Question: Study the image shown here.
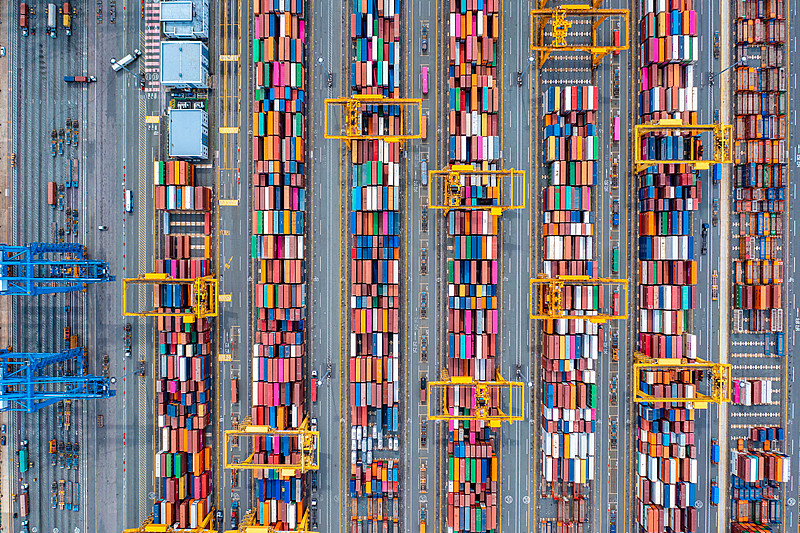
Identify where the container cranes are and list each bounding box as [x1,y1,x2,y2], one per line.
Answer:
[429,164,525,216]
[634,116,734,173]
[0,341,121,416]
[633,350,732,410]
[530,270,629,327]
[0,238,121,298]
[530,4,630,67]
[123,268,218,324]
[325,90,423,150]
[428,367,524,428]
[224,413,319,478]
[225,506,318,533]
[123,506,217,533]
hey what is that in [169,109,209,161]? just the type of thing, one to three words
building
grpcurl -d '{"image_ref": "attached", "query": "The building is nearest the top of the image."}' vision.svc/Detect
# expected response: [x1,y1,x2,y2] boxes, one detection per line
[160,0,209,41]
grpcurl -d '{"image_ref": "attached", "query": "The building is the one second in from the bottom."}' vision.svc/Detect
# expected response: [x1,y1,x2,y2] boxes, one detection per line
[161,41,208,88]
